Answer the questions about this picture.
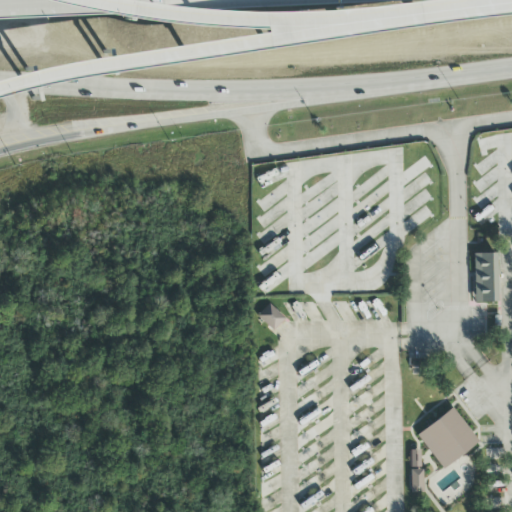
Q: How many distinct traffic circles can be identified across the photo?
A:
0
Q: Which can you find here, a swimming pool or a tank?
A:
swimming pool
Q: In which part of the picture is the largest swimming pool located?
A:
bottom right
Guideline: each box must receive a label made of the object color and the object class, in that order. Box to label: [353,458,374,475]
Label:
white camper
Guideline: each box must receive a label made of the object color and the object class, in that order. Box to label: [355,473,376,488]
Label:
white vehicle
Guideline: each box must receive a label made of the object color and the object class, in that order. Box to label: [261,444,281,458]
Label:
white vehicle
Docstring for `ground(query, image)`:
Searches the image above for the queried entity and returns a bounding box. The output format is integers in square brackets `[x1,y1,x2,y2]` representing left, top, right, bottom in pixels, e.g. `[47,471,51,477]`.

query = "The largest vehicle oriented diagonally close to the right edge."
[474,205,495,221]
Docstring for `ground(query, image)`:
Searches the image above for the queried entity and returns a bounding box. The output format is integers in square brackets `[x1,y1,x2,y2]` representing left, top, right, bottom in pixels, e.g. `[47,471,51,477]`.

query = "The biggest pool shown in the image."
[428,456,475,504]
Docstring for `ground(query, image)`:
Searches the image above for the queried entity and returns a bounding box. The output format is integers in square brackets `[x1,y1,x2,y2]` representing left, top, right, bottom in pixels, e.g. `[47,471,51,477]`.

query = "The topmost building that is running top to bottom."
[476,253,500,302]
